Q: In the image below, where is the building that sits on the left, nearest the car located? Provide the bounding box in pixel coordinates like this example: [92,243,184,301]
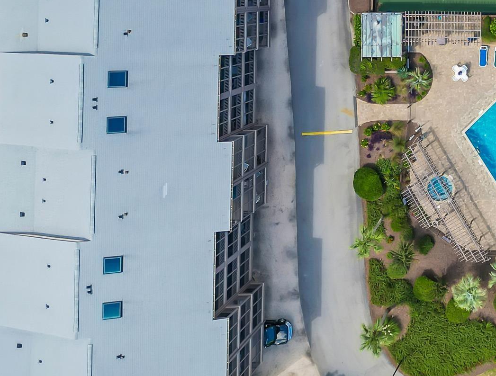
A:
[0,0,275,376]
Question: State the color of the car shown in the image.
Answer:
blue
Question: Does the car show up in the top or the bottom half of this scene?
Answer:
bottom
